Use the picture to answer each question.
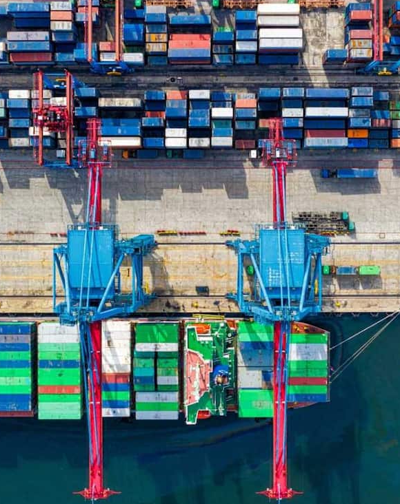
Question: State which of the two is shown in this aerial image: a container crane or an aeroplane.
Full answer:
This aerial view contains a container crane.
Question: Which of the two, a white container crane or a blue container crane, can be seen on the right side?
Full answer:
It is a blue container crane that can be seen on the right side.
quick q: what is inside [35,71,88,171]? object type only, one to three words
container crane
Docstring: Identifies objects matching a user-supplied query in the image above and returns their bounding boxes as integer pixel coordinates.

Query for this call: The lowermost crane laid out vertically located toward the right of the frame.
[219,118,326,501]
